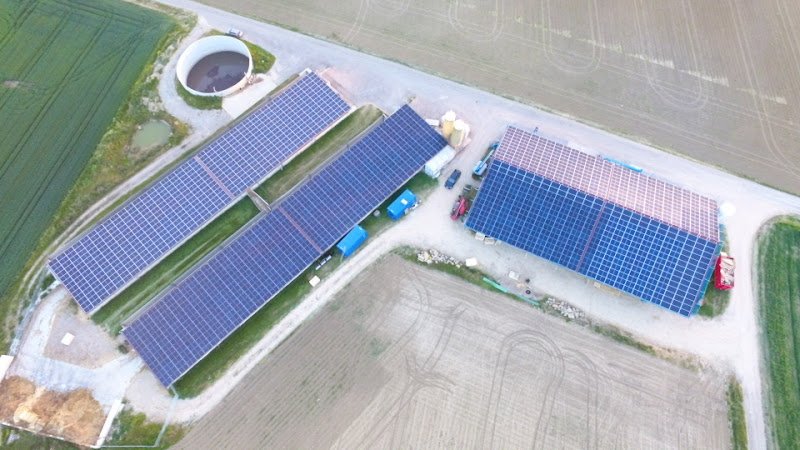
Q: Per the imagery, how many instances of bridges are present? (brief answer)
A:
0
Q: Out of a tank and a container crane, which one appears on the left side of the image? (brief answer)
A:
tank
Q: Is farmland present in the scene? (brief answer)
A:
Yes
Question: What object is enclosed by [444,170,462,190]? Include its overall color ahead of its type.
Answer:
blue car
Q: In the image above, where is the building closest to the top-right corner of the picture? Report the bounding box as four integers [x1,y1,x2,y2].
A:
[464,125,723,320]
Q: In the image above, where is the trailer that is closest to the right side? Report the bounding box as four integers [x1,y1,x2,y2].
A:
[710,256,735,291]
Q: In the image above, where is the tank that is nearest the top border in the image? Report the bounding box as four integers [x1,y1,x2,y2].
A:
[176,36,266,102]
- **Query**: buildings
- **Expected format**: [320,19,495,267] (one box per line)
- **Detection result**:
[45,66,355,318]
[120,99,451,390]
[464,125,723,320]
